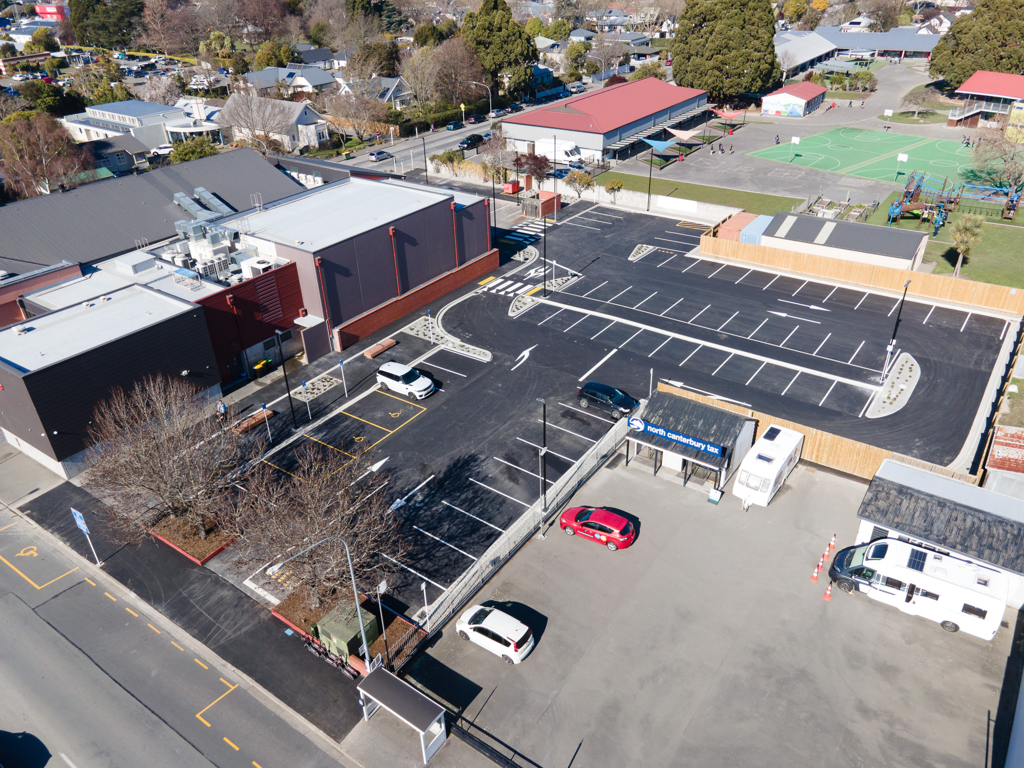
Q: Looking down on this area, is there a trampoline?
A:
No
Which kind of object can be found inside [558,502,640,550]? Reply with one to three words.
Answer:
car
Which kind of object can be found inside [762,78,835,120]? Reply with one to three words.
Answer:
shed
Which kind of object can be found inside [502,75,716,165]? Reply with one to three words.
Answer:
building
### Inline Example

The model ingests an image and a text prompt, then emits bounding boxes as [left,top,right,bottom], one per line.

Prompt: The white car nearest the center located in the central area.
[377,357,440,399]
